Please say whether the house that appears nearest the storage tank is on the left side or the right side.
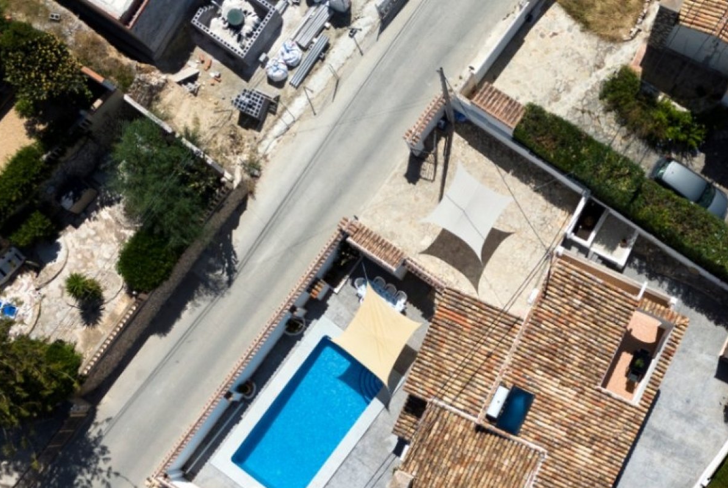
left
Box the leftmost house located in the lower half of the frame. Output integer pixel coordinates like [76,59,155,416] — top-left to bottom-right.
[389,246,689,488]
